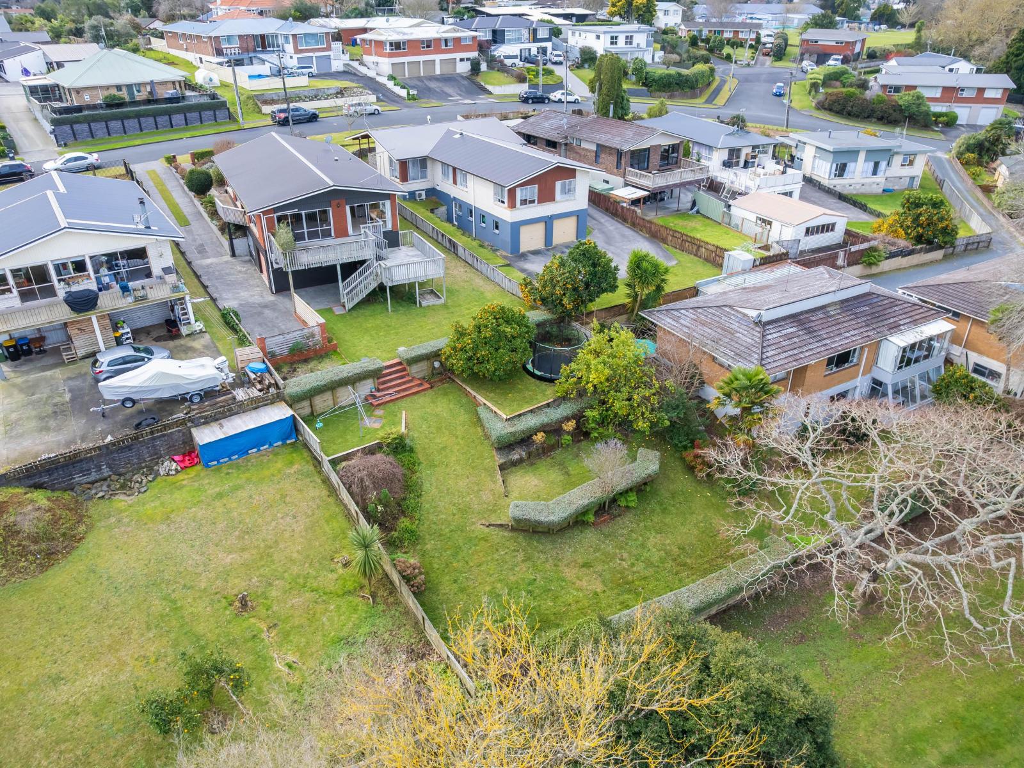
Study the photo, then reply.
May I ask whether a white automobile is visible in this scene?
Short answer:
Yes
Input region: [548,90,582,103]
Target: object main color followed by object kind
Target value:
white vehicle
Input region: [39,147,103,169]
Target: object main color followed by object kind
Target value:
white car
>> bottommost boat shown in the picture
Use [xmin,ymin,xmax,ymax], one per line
[159,446,202,465]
